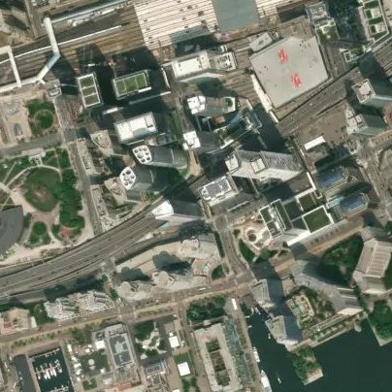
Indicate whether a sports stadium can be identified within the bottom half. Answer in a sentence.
No, no sports stadium appears within the bottom half.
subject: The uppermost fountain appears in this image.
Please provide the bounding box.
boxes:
[244,227,261,245]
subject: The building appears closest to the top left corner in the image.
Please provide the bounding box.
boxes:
[0,6,24,37]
